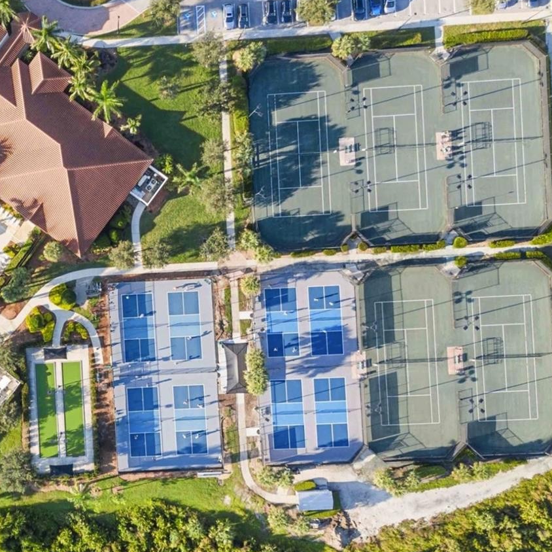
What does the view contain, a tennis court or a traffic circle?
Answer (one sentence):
The one in the frame is a tennis court.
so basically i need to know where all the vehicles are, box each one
[224,4,234,30]
[264,0,276,26]
[293,0,305,25]
[524,0,536,8]
[353,0,365,20]
[237,4,249,30]
[383,0,396,12]
[370,0,381,16]
[496,0,507,13]
[280,0,291,26]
